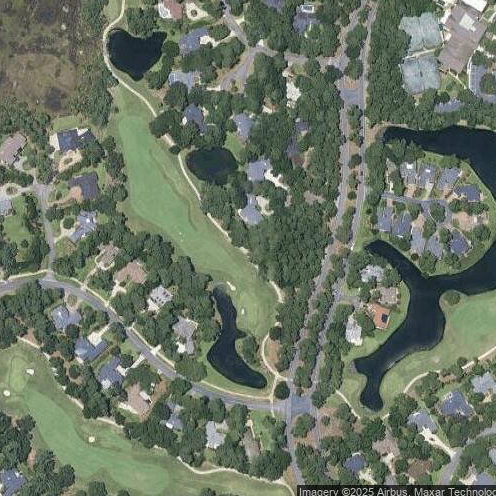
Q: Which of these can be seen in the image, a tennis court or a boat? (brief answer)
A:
tennis court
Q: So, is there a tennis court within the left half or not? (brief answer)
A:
No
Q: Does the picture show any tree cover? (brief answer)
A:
Yes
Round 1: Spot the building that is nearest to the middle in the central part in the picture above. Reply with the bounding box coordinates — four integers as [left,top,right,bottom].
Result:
[239,194,265,224]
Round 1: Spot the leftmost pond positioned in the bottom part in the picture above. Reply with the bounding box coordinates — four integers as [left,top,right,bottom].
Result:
[207,288,266,389]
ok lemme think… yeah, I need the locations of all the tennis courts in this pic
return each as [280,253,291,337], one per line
[401,59,426,95]
[419,56,443,92]
[416,12,439,49]
[398,16,422,52]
